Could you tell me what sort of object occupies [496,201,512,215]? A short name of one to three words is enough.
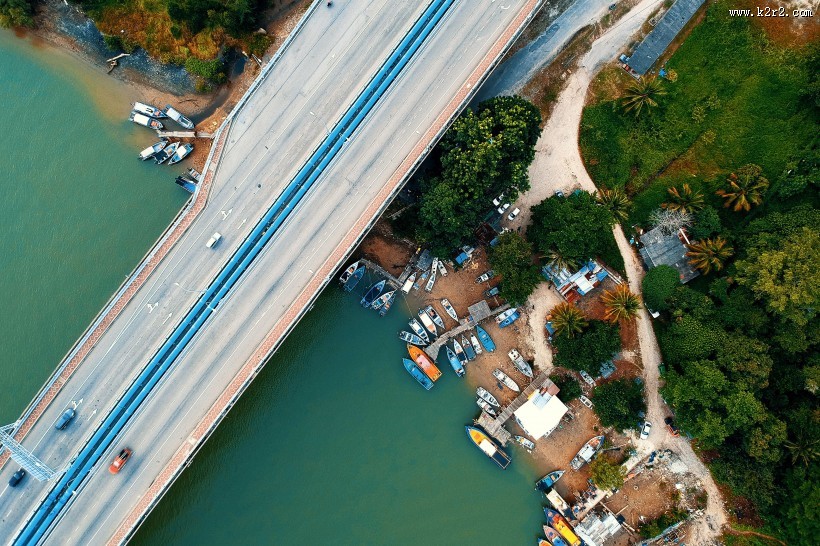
car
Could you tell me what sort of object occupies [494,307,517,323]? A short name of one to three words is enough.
boat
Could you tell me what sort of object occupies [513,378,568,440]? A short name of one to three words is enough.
building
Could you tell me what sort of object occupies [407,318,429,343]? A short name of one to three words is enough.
boat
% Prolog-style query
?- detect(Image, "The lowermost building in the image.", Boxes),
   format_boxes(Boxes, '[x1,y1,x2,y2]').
[574,510,622,546]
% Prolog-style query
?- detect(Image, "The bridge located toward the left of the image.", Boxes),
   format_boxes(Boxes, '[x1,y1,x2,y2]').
[0,0,546,546]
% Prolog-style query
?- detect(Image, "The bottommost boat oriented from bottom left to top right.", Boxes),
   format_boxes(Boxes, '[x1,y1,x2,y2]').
[536,470,565,492]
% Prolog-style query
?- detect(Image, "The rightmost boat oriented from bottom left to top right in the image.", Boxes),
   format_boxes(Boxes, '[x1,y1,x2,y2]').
[570,436,605,472]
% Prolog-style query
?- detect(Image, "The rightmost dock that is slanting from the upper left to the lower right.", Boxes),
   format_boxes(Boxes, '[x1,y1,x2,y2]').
[475,410,511,444]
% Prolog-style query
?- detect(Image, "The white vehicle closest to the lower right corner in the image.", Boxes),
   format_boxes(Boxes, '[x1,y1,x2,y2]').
[641,423,654,440]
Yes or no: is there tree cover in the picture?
Yes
